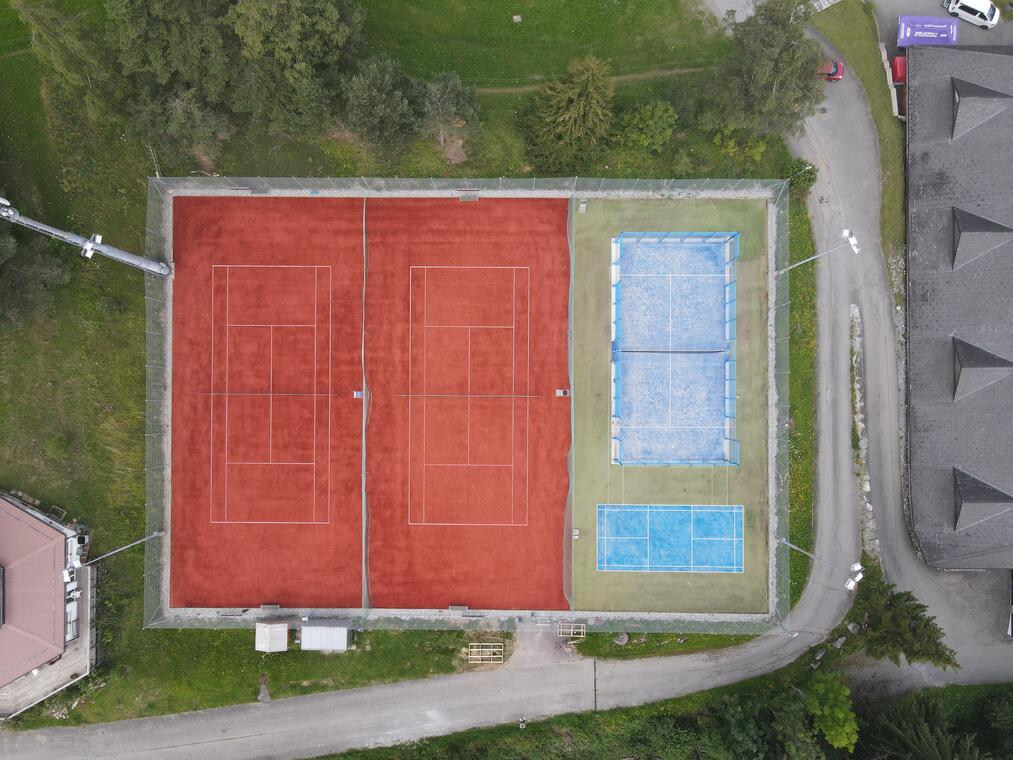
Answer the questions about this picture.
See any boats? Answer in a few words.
No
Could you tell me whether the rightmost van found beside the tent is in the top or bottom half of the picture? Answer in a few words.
top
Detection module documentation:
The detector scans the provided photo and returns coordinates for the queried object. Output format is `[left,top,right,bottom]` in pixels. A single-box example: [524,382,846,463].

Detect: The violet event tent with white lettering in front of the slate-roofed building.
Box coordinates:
[885,17,958,57]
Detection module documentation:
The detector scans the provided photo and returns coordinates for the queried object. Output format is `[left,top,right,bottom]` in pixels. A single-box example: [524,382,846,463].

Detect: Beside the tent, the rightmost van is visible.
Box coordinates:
[938,0,999,33]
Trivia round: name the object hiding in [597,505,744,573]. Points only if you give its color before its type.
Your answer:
blue sports court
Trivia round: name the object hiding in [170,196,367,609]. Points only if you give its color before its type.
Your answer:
red tennis court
